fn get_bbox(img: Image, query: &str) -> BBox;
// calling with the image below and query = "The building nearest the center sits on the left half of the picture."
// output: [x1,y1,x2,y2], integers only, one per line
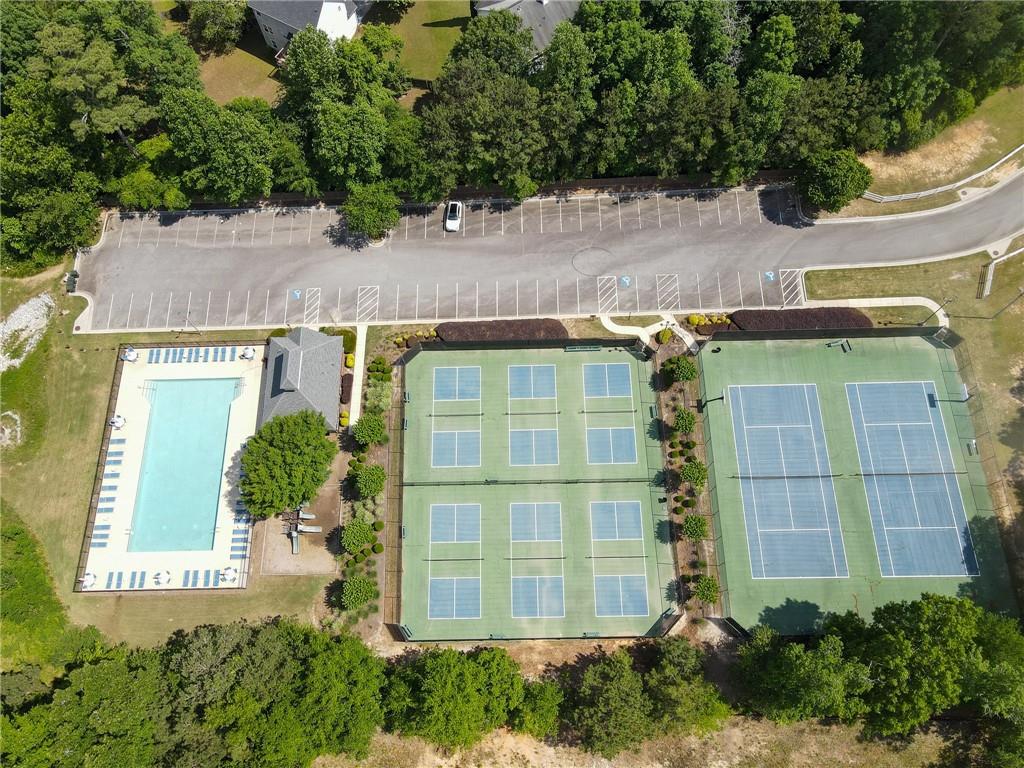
[260,327,345,434]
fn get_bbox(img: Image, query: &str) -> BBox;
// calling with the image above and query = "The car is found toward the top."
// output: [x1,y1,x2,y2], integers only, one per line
[445,203,462,233]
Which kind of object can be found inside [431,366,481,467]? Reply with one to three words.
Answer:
sports court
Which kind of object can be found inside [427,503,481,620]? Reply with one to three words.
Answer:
sports court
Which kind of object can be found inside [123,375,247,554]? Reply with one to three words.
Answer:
swimming pool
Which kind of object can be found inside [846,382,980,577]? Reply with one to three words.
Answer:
tennis court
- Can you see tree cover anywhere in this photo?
Yes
